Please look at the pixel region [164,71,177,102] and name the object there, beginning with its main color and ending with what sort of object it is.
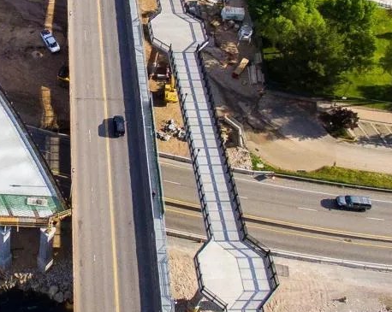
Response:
yellow vehicle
